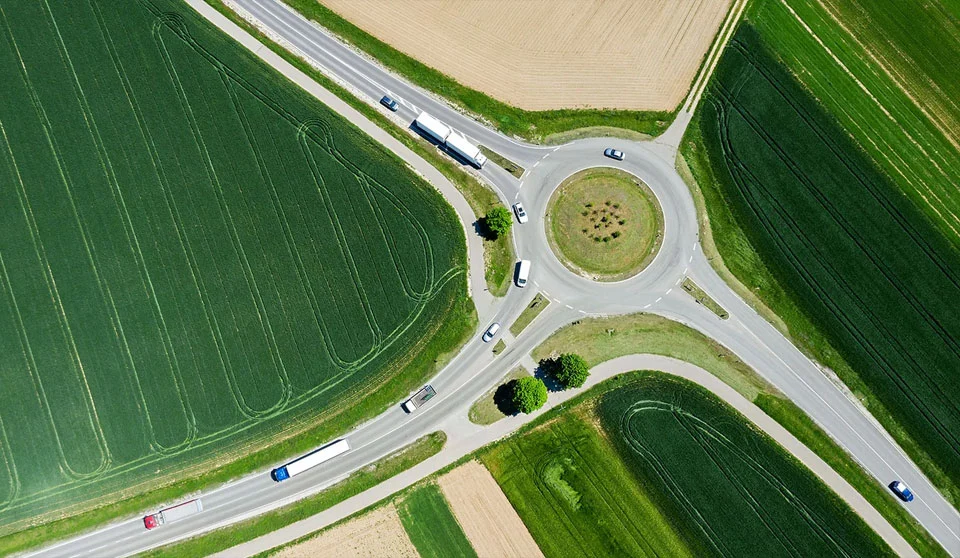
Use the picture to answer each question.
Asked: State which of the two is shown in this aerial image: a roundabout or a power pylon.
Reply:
roundabout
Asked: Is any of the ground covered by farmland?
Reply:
Yes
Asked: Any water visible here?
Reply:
No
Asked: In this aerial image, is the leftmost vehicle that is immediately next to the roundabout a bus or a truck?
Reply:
truck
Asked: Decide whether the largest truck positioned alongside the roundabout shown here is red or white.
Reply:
white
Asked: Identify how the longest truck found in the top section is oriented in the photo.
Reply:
at an angle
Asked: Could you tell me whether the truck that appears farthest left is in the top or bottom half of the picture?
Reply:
bottom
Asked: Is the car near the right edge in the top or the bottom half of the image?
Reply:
bottom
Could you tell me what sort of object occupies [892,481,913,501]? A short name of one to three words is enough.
car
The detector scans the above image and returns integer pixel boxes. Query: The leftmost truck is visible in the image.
[143,497,206,529]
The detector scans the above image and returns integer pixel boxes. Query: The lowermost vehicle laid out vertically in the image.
[518,261,530,287]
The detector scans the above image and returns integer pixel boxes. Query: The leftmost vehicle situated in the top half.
[382,96,399,112]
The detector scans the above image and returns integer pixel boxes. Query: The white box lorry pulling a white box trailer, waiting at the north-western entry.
[416,111,488,170]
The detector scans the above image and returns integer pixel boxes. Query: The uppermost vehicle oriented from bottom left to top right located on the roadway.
[483,323,500,342]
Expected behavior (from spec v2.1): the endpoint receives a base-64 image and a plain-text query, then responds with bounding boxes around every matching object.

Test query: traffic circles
[501,136,698,316]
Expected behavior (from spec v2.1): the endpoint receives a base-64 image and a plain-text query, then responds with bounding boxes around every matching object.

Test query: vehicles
[518,261,530,287]
[416,111,488,170]
[404,385,437,414]
[276,436,352,480]
[604,148,625,159]
[382,96,399,112]
[483,323,500,342]
[143,497,206,529]
[514,203,528,223]
[892,481,913,501]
